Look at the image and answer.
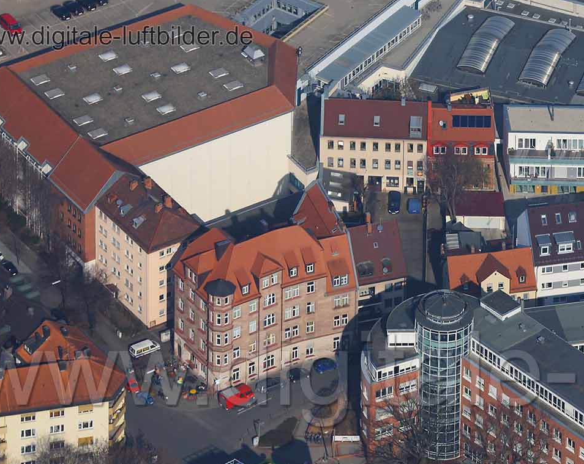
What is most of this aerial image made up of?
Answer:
buildings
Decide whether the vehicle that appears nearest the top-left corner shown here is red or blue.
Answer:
red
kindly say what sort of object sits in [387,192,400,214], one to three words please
vehicle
